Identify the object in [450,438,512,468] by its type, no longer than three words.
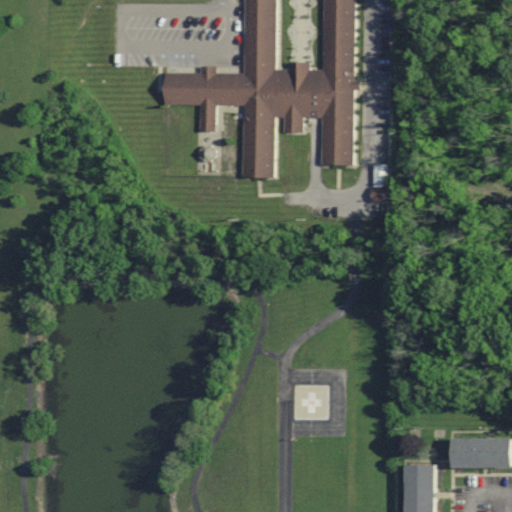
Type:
building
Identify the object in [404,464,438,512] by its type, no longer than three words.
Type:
building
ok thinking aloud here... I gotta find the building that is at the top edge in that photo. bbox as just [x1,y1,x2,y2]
[161,0,360,178]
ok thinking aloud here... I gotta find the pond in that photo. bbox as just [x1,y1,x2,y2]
[49,295,228,512]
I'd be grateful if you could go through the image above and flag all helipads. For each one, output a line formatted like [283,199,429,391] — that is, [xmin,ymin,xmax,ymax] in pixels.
[291,369,346,436]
